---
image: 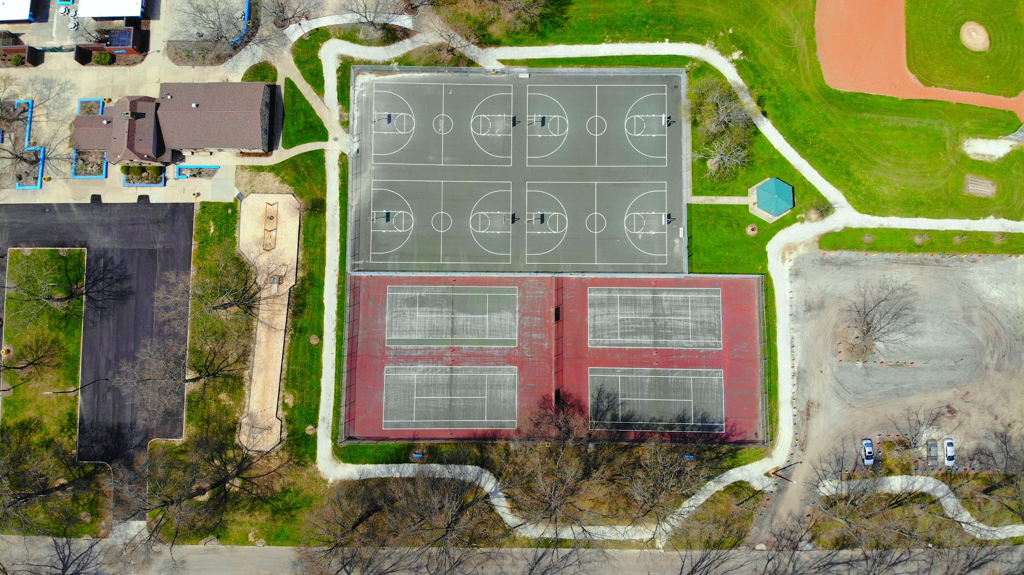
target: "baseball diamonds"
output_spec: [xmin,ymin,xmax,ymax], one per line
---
[815,0,1024,124]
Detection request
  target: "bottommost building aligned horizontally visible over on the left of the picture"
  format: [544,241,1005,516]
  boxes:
[72,83,269,165]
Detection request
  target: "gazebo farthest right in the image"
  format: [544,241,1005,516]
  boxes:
[754,177,794,218]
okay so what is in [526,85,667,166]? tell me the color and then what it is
gray basketball court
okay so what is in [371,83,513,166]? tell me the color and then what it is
gray basketball court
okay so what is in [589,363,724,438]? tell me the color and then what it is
gray tennis court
